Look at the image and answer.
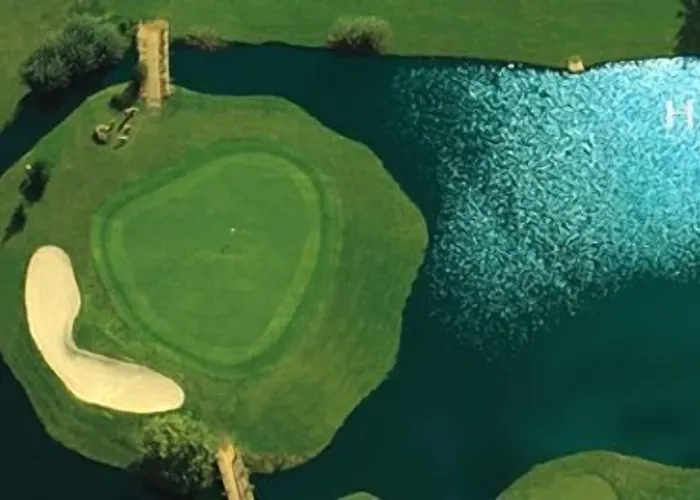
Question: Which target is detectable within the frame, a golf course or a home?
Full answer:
Visible in the photo is a golf course.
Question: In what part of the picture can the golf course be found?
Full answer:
The golf course is in the left part of the image.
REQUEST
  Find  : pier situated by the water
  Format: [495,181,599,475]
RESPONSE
[566,51,585,75]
